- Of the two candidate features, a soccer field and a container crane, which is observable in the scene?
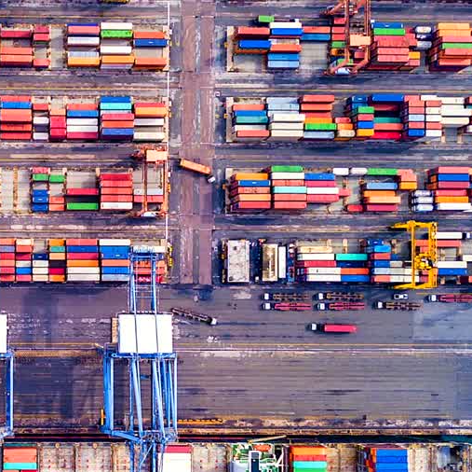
container crane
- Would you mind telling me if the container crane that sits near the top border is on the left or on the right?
right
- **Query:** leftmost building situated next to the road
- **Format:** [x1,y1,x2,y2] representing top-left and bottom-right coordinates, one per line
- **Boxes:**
[225,240,249,282]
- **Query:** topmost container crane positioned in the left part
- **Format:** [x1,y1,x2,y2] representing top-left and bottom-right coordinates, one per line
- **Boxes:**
[132,145,168,221]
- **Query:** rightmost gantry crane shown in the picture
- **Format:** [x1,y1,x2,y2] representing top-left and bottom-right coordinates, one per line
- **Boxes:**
[386,221,436,293]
